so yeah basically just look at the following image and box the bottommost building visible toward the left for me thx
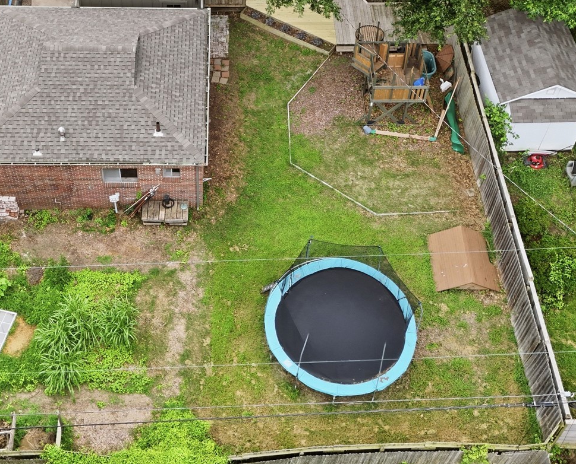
[0,4,214,206]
